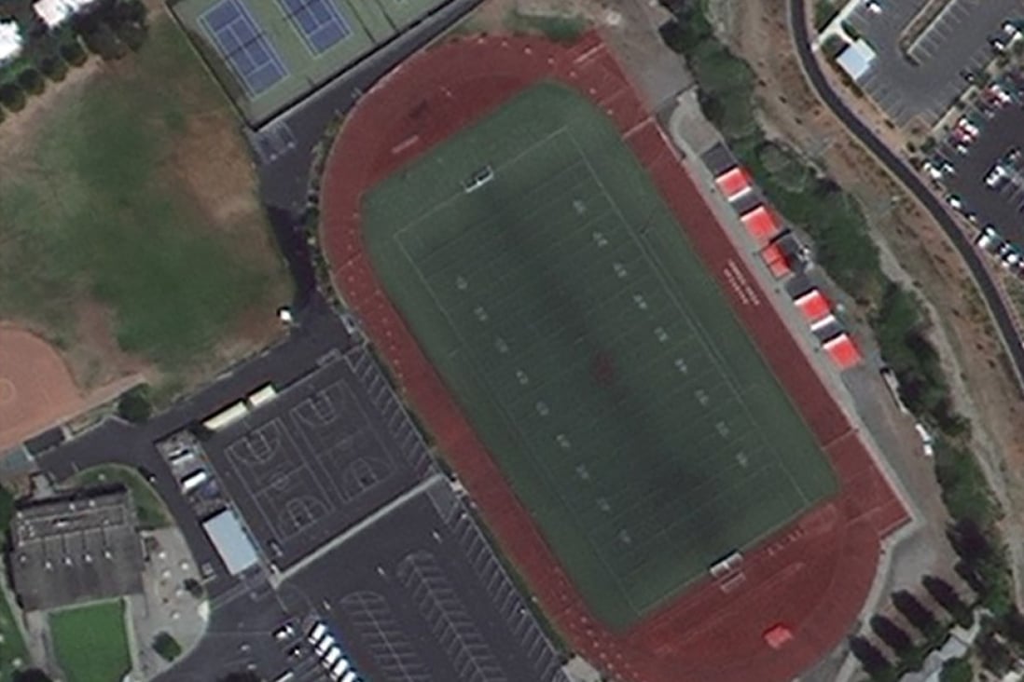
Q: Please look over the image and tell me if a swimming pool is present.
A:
No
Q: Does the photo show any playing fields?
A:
Yes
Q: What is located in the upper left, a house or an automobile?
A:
house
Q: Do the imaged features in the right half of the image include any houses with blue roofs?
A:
No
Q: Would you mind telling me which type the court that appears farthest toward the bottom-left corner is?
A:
basketball court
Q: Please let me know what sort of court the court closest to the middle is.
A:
basketball court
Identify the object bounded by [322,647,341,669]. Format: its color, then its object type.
white vehicle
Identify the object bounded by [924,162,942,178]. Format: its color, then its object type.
white car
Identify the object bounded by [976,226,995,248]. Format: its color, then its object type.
white vehicle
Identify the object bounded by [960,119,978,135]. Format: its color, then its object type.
white car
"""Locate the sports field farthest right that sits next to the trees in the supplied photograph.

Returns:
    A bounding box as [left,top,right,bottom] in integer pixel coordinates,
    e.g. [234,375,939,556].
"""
[360,80,840,634]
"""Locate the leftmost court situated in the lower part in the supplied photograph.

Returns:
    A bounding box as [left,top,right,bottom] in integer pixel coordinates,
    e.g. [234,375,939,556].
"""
[221,417,336,545]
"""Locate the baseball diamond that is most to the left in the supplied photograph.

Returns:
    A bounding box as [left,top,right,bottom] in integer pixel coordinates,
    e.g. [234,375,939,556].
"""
[0,326,145,453]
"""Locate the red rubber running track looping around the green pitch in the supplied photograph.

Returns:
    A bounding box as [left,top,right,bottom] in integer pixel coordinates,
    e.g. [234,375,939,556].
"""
[319,28,914,682]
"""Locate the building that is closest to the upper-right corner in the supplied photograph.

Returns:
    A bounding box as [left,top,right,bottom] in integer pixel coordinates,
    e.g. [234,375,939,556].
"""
[838,38,876,79]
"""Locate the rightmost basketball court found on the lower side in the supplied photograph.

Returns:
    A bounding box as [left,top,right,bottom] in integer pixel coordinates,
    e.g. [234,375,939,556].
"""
[287,380,398,504]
